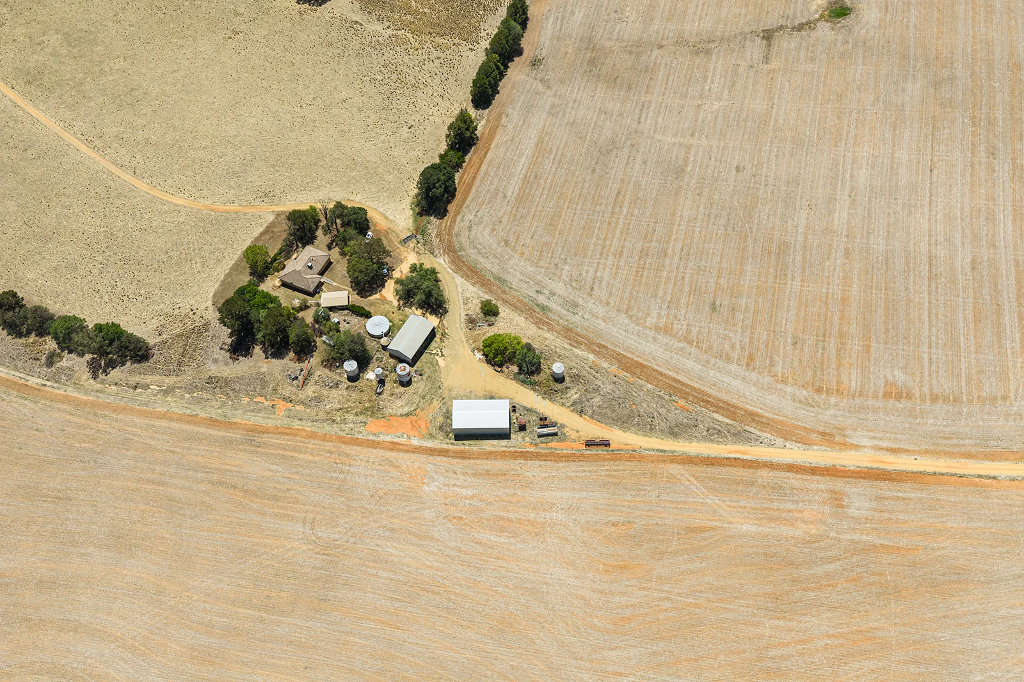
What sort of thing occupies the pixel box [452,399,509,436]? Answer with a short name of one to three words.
shed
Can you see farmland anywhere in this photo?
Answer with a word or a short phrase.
Yes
